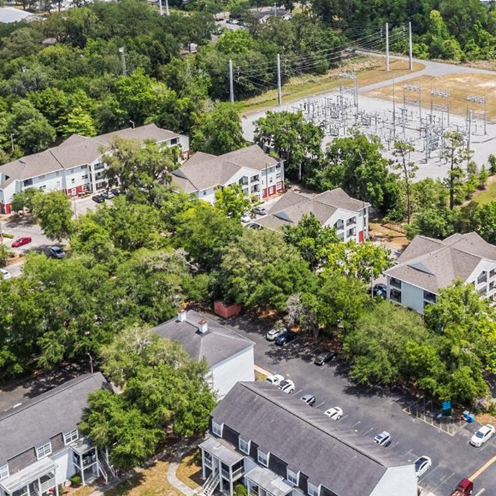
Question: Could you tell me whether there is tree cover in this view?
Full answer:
Yes, tree cover shows up in the scene.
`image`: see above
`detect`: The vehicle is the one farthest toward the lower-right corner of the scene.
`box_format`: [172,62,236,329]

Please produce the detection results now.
[444,469,477,496]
